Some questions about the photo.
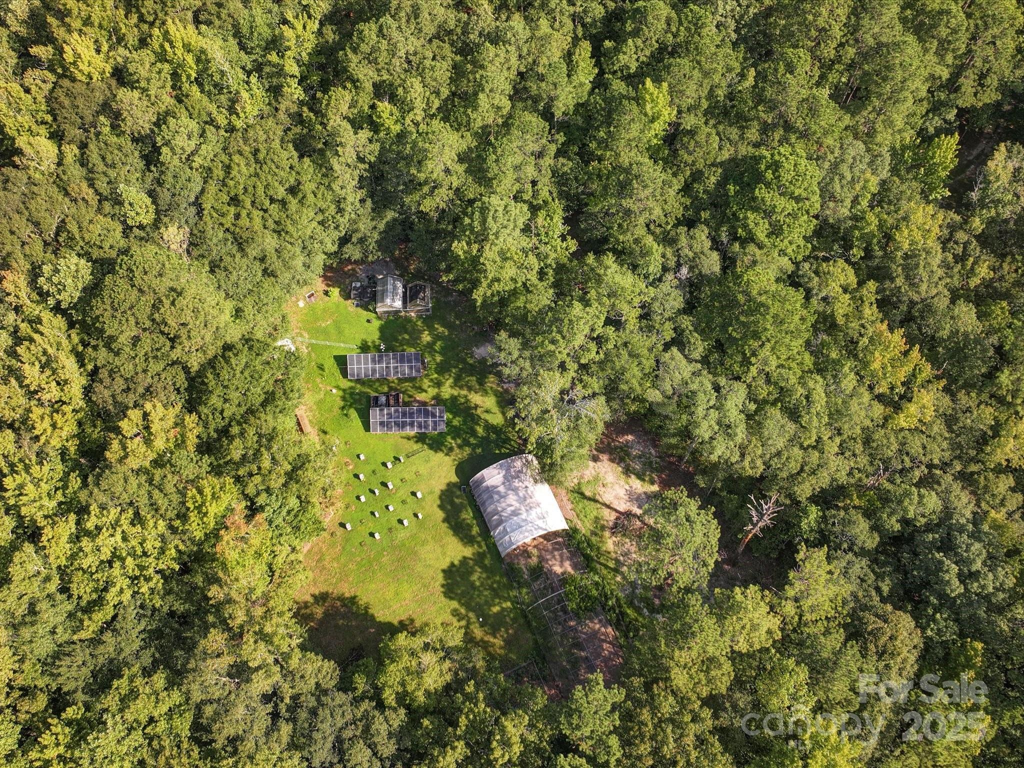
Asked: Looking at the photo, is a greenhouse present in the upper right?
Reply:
No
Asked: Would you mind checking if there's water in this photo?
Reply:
No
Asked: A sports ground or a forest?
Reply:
forest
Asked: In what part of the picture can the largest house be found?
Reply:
bottom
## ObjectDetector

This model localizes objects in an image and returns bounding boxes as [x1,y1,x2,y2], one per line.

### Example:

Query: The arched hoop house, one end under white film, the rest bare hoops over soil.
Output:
[469,452,630,695]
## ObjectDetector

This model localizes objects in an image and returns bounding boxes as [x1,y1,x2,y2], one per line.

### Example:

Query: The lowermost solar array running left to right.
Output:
[370,407,446,433]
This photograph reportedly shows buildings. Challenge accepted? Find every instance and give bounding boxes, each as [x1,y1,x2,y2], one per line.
[376,275,404,316]
[403,281,431,314]
[469,452,630,695]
